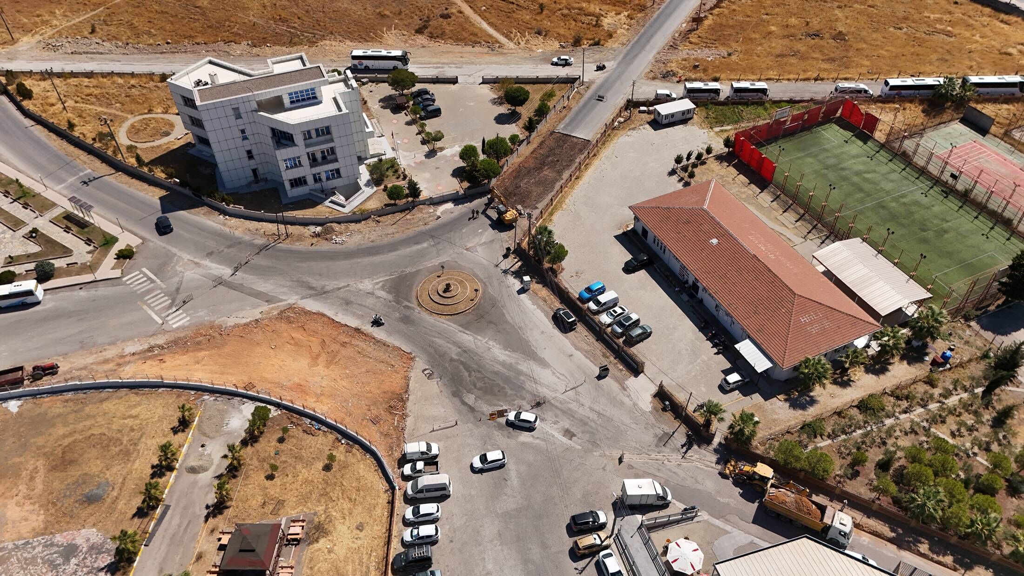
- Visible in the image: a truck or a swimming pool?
truck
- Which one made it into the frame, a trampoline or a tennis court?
tennis court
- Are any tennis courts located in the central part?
No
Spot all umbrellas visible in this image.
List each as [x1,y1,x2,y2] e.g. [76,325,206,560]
[666,539,704,576]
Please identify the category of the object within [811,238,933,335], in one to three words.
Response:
shed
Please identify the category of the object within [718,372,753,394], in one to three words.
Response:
car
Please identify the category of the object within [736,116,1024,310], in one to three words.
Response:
soccer field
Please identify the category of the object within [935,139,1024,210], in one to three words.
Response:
tennis court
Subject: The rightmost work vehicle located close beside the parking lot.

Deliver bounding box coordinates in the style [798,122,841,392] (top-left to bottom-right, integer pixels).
[492,193,519,231]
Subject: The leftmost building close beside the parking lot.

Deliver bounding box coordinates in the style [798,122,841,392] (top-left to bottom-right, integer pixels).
[167,53,368,196]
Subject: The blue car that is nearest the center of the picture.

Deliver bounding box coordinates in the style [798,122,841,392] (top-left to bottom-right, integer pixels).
[577,283,607,304]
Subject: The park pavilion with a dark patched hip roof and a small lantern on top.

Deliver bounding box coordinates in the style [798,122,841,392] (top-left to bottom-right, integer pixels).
[220,524,285,576]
